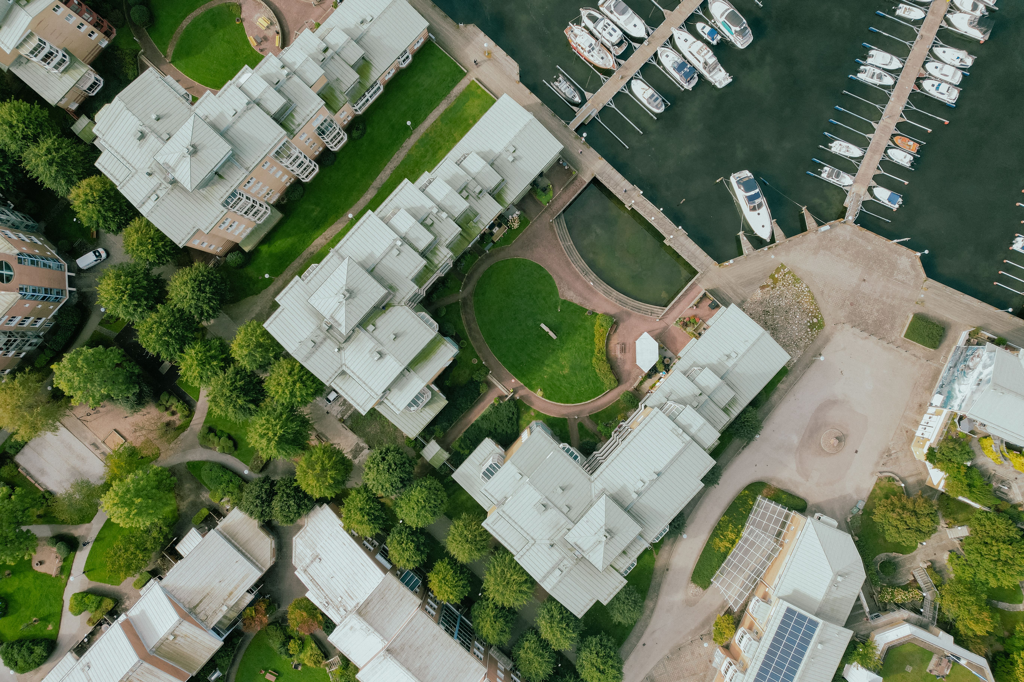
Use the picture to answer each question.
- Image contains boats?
Yes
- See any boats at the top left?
No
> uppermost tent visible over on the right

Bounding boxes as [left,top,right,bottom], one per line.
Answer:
[632,332,659,373]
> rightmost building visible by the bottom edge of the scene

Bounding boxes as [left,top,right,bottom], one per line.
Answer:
[866,620,996,682]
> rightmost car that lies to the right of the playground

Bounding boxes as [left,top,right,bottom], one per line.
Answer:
[321,388,344,407]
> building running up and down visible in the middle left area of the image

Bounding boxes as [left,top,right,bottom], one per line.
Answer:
[0,216,76,377]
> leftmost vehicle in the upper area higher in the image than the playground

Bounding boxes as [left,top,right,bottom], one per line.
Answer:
[73,247,112,271]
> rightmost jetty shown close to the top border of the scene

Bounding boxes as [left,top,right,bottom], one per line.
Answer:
[843,0,951,206]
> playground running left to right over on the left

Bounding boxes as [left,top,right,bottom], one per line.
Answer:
[70,399,179,447]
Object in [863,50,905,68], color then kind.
white boat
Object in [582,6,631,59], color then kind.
white boat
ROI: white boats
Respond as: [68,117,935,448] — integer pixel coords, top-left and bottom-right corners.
[872,187,906,209]
[924,61,964,86]
[591,0,649,39]
[815,166,856,184]
[944,12,996,49]
[729,166,772,239]
[707,0,756,56]
[887,149,919,167]
[561,20,616,71]
[921,79,961,104]
[672,24,738,96]
[852,65,897,83]
[582,6,631,59]
[696,21,723,47]
[932,45,976,69]
[863,50,905,68]
[953,0,991,17]
[1006,236,1024,252]
[827,138,866,155]
[631,78,667,116]
[657,45,701,98]
[891,4,928,18]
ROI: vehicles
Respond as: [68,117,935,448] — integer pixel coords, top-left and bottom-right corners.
[321,388,344,407]
[73,247,112,271]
